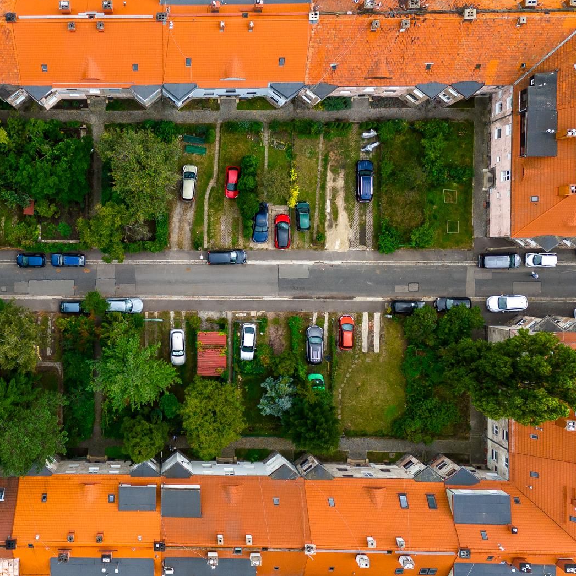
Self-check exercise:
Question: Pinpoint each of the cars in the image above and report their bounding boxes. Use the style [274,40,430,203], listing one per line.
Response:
[355,159,375,202]
[476,253,520,269]
[181,164,197,201]
[306,324,324,364]
[390,299,424,314]
[17,252,46,267]
[339,314,355,350]
[224,165,241,199]
[238,322,255,360]
[484,294,527,312]
[295,201,311,231]
[104,297,142,314]
[59,299,91,314]
[274,214,290,249]
[52,253,86,267]
[308,373,326,398]
[252,201,268,244]
[523,252,557,268]
[434,296,472,313]
[169,328,186,365]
